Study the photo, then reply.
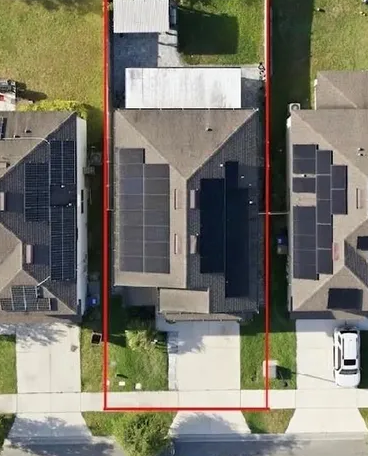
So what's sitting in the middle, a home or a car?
home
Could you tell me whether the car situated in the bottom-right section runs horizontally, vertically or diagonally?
vertically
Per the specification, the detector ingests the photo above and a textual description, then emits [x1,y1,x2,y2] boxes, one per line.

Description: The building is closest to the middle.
[112,108,260,320]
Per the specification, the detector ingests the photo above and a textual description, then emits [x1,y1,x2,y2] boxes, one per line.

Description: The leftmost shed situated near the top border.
[113,0,170,37]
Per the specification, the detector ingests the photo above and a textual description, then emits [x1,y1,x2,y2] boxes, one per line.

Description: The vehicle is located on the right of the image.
[332,326,363,389]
